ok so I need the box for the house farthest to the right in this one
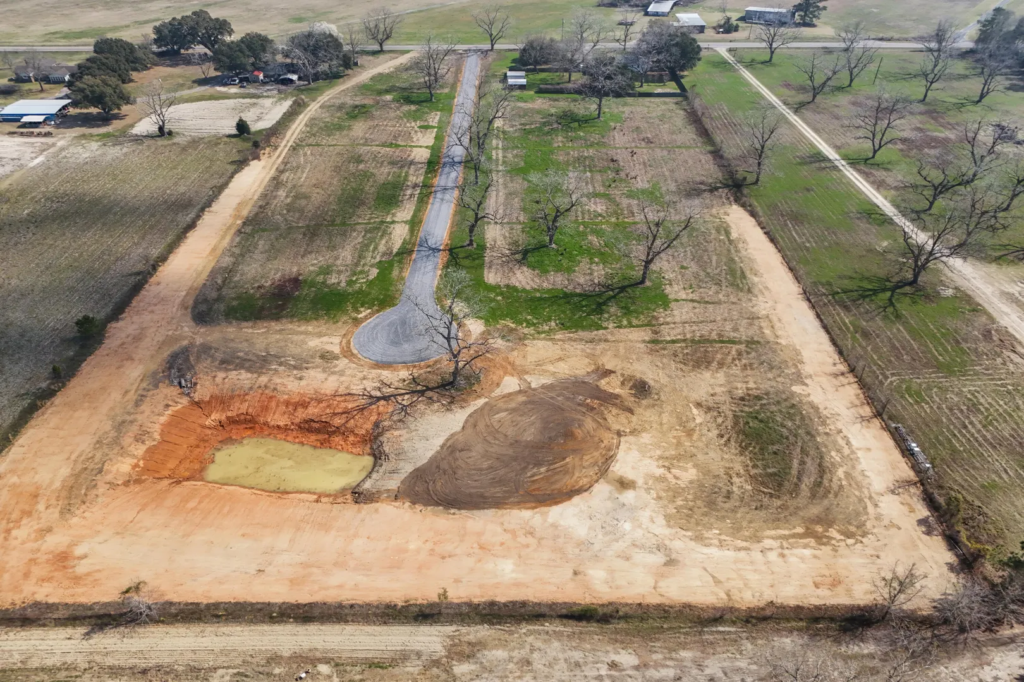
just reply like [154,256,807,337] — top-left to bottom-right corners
[743,11,794,24]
